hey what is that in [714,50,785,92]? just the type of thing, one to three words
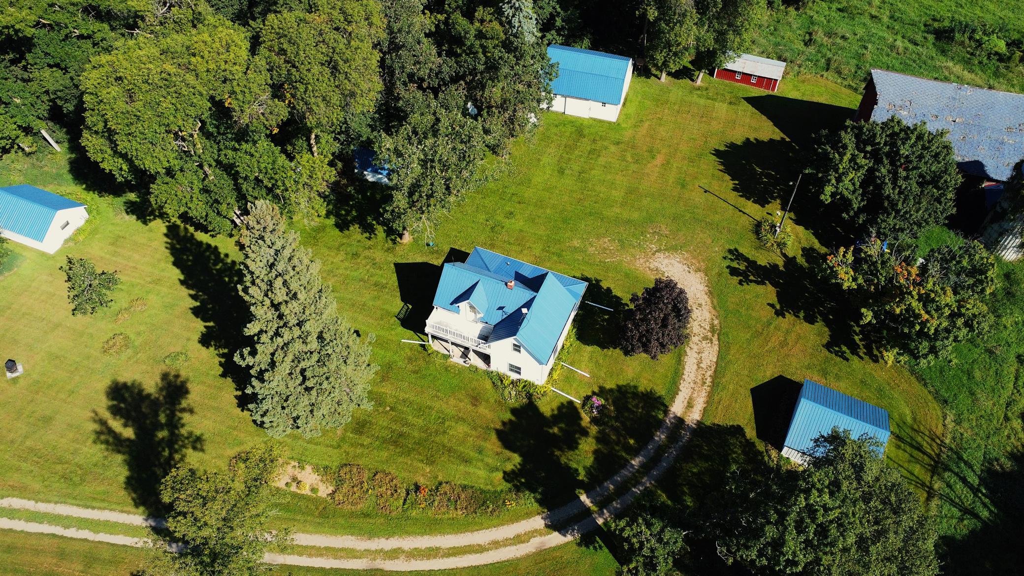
shed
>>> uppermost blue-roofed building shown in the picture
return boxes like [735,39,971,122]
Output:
[538,44,632,123]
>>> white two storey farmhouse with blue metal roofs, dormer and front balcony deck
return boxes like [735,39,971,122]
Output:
[423,246,590,384]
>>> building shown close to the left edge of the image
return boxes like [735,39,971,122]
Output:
[0,184,89,253]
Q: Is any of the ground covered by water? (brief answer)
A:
No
